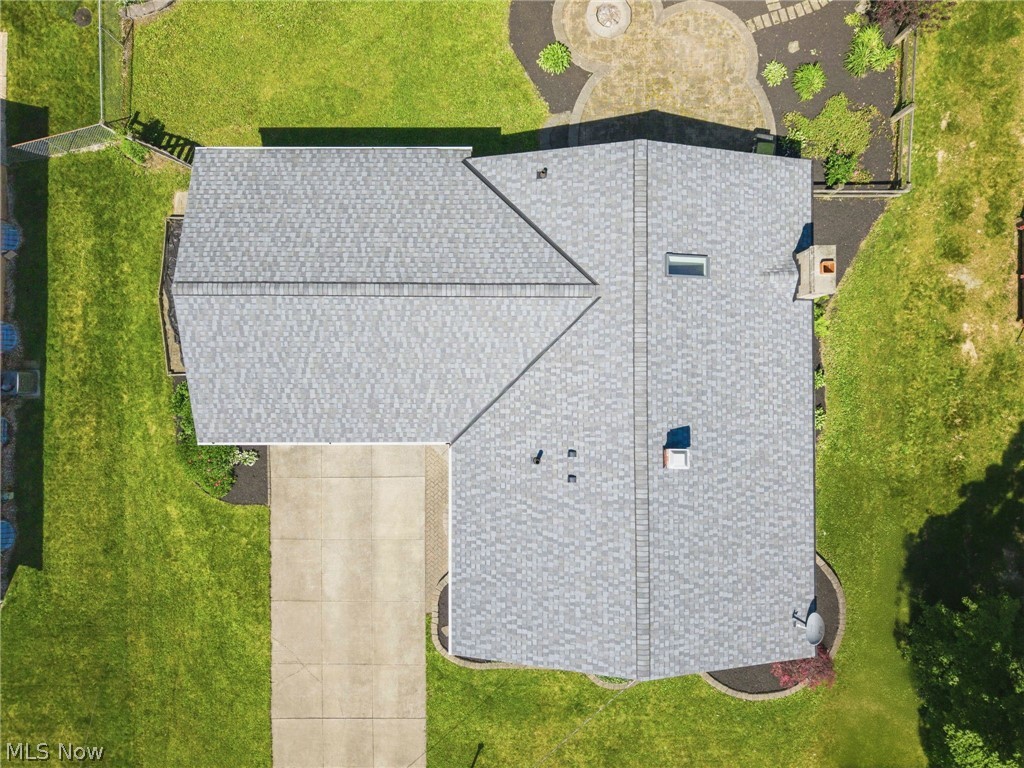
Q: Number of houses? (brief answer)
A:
1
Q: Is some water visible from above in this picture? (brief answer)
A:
No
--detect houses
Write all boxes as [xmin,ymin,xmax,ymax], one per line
[171,140,835,680]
